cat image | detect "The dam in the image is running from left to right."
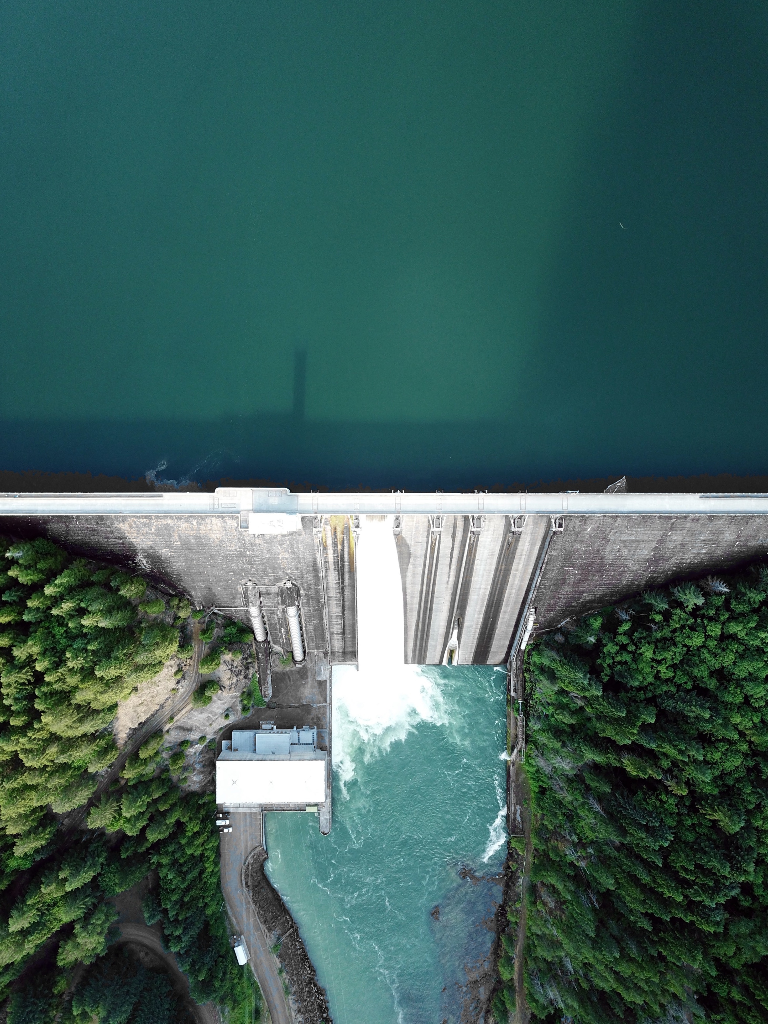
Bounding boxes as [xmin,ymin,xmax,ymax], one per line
[0,487,768,672]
